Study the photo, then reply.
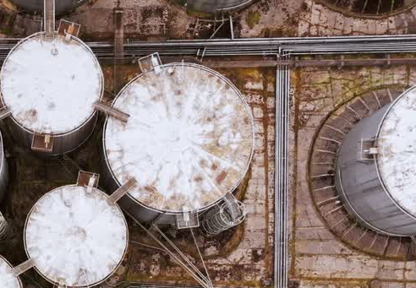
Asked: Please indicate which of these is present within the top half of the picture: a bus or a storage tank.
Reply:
storage tank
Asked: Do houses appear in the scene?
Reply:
No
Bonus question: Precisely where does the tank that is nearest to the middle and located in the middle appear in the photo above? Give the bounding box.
[97,42,259,230]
